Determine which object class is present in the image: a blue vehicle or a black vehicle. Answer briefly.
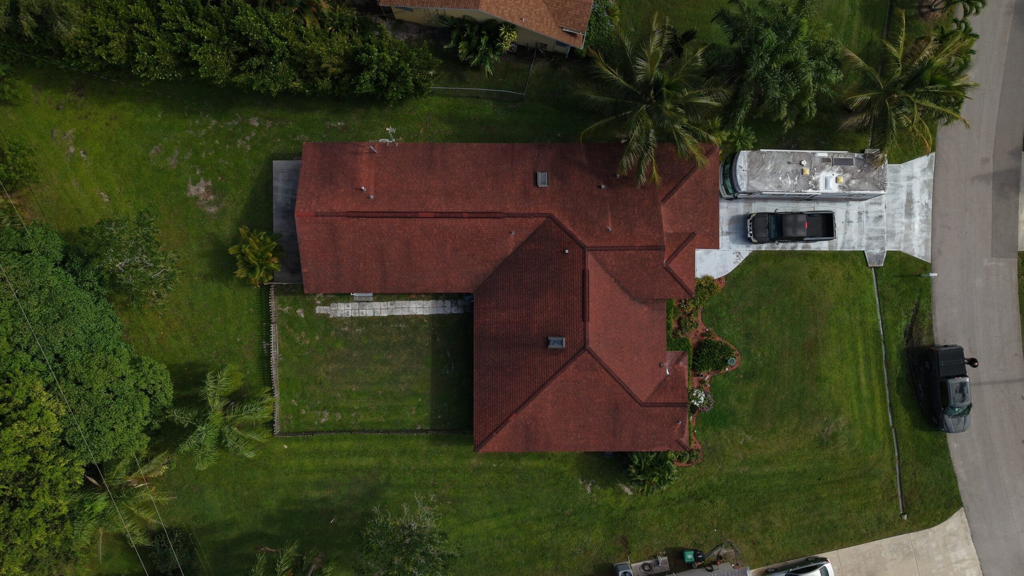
black vehicle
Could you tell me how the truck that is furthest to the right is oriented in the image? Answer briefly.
up and down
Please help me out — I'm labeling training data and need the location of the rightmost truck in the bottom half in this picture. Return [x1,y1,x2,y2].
[926,342,979,436]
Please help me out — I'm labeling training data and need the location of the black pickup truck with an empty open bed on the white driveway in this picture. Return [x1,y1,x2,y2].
[743,205,837,248]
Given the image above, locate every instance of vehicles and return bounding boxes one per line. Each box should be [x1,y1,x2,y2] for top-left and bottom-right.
[743,205,837,248]
[926,342,979,436]
[758,556,838,576]
[720,147,890,202]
